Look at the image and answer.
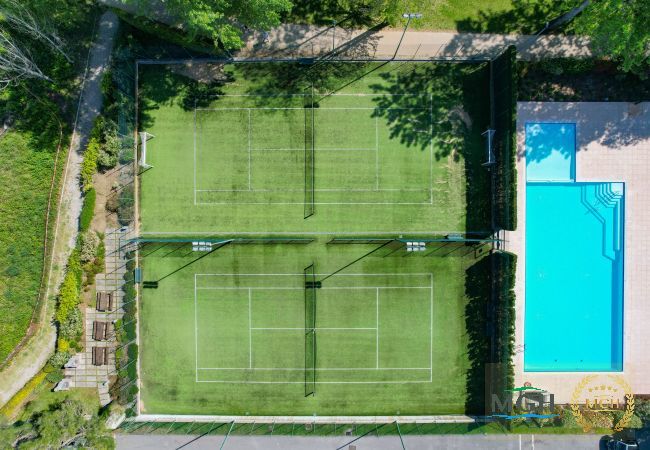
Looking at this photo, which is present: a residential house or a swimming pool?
swimming pool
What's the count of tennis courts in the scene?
2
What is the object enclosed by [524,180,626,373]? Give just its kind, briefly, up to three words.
swimming pool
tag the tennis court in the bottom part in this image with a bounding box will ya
[139,236,492,415]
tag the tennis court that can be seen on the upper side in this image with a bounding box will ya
[139,62,492,236]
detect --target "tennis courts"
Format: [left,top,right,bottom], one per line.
[139,236,492,415]
[139,62,492,236]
